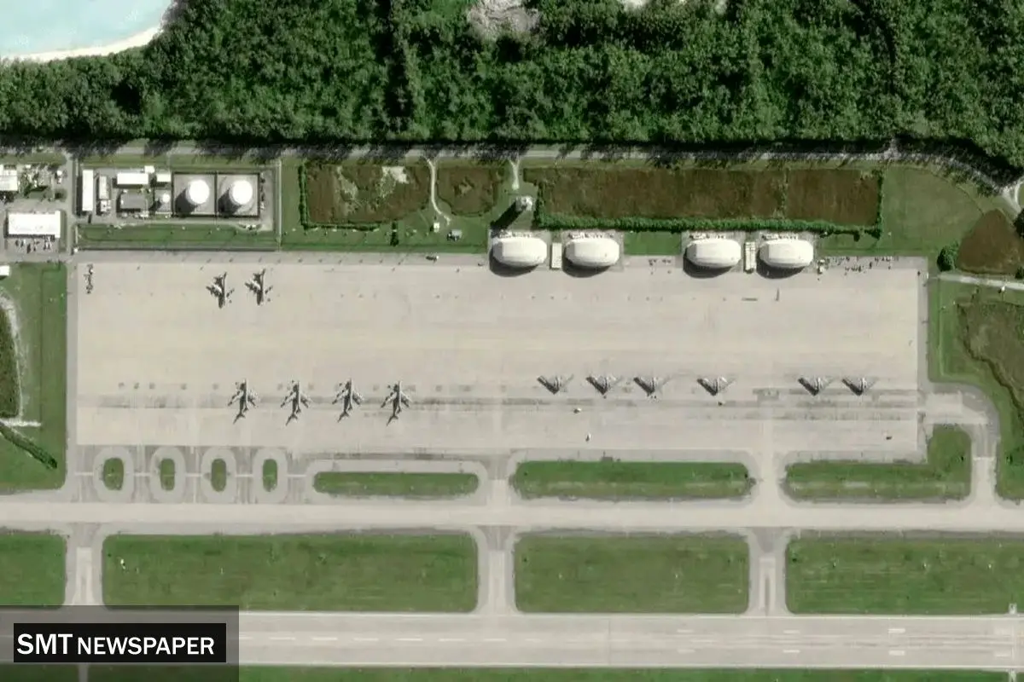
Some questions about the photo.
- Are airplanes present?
Yes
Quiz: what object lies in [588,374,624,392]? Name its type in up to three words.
airplane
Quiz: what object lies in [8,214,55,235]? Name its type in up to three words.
building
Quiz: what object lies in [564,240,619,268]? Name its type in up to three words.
hangar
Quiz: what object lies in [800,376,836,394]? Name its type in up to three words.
airplane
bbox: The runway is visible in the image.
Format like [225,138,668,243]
[0,611,1024,670]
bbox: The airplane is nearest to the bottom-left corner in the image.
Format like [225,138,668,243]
[232,379,262,409]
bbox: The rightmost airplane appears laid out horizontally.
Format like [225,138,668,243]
[844,376,880,394]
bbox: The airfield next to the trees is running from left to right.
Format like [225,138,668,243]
[0,252,1024,682]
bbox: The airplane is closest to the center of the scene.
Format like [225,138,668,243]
[539,374,576,392]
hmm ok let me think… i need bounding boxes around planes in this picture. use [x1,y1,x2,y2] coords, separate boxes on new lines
[210,277,238,306]
[588,374,624,392]
[539,374,576,392]
[385,381,415,411]
[232,379,262,409]
[636,375,672,392]
[800,376,836,394]
[284,381,314,412]
[699,376,735,393]
[249,274,277,303]
[844,376,880,394]
[337,379,367,408]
